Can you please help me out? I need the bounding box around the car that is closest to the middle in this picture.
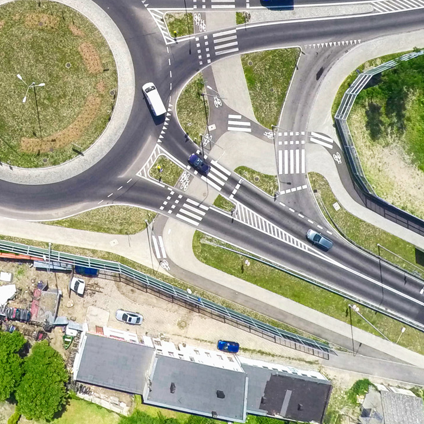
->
[185,150,214,177]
